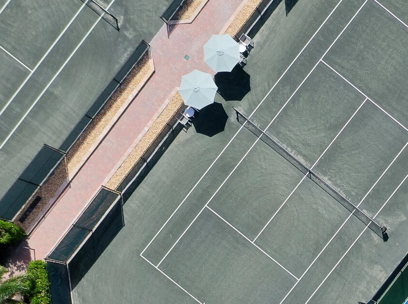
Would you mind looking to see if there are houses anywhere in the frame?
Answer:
No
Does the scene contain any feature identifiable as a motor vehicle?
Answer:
No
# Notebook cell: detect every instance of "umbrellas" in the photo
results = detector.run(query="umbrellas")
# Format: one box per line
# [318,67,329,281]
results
[202,34,242,74]
[180,71,217,109]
